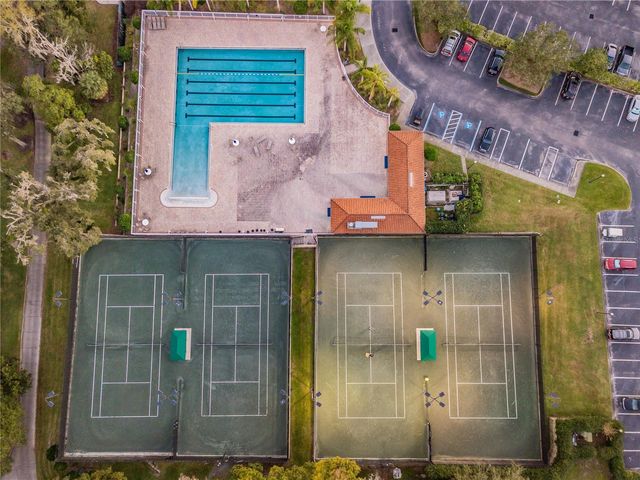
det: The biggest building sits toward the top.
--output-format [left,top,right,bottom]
[329,131,426,234]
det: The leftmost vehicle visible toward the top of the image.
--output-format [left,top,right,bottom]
[409,101,426,127]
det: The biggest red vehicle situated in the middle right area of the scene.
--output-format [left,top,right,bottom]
[603,258,639,271]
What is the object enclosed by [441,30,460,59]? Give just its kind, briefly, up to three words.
car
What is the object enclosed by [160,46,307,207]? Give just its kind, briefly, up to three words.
swimming pool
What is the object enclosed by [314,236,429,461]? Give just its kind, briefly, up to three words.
tennis court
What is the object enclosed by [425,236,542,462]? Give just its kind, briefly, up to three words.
tennis court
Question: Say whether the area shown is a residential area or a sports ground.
sports ground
